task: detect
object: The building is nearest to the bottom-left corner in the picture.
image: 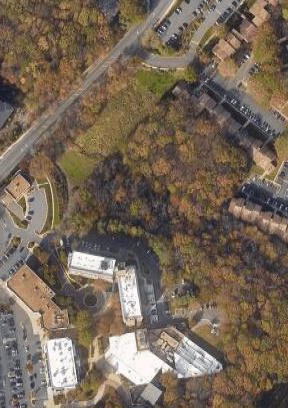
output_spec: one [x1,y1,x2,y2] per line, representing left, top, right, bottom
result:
[46,337,77,390]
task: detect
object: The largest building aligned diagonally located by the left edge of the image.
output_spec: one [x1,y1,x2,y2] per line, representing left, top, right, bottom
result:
[2,265,68,334]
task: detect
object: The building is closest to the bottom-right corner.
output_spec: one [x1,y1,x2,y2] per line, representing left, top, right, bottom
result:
[173,338,222,382]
